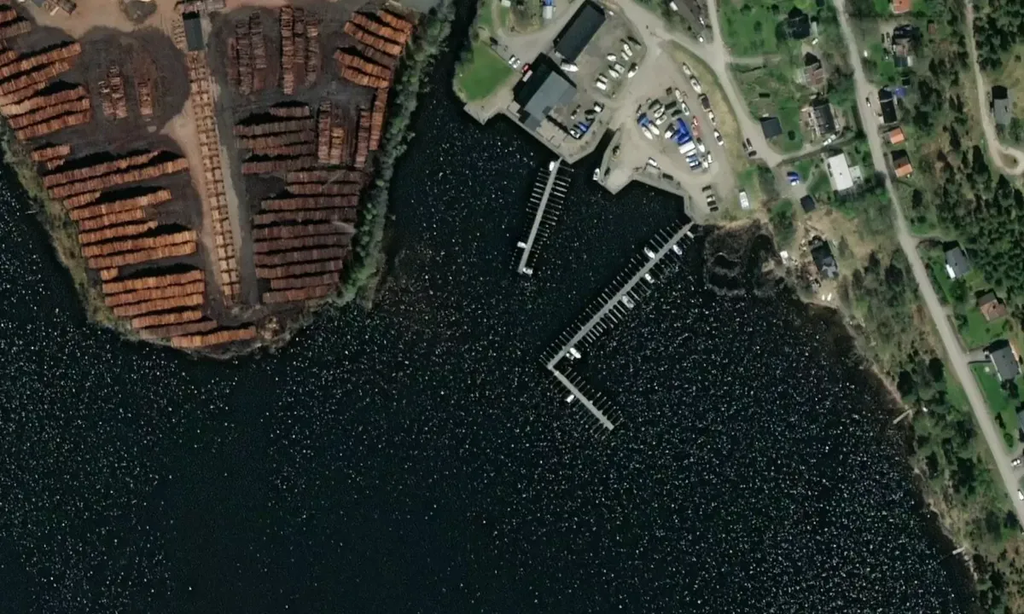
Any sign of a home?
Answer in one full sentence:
Yes, a home can be made out from above.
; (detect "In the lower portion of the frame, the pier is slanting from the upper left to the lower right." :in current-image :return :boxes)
[547,363,615,431]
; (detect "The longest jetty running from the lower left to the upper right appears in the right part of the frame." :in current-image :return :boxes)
[547,215,695,369]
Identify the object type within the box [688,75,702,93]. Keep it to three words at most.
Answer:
boat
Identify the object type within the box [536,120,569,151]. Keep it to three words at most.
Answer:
building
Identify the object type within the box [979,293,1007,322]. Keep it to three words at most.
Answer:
house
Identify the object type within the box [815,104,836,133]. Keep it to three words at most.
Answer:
house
